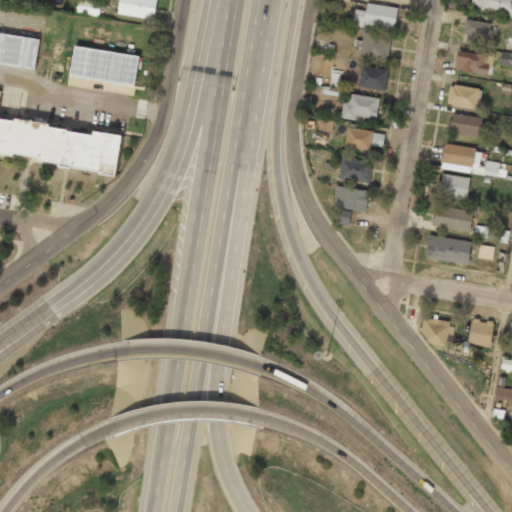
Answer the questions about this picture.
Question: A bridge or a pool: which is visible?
bridge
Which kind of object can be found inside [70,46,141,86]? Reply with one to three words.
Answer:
building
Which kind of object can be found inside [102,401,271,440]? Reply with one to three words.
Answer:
bridge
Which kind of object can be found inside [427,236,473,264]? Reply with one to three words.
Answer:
house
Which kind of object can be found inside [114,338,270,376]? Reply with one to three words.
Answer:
bridge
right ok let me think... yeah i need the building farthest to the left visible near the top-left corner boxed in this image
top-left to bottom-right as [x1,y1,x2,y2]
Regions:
[0,33,41,70]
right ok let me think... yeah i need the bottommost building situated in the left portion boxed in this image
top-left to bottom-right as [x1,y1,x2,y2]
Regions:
[0,118,124,176]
